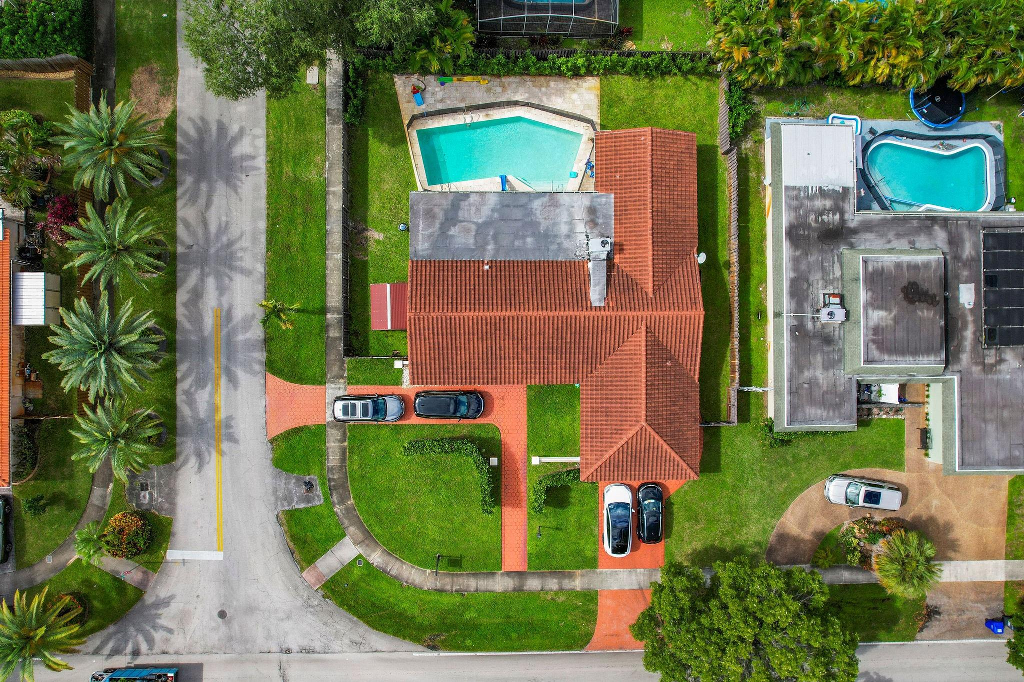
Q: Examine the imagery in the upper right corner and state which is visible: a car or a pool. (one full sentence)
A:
Visible in the upper right corner is a pool.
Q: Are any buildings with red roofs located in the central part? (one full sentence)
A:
Yes, a building with a red roof appears in the central part.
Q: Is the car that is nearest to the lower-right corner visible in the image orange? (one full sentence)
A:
No, the car that is nearest to the lower-right corner is actually white.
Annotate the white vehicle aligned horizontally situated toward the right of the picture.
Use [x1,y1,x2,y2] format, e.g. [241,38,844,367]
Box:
[827,475,907,514]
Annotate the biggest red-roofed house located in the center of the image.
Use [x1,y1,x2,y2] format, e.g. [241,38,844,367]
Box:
[404,125,706,482]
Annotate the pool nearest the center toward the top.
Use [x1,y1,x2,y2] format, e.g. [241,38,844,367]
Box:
[409,109,591,189]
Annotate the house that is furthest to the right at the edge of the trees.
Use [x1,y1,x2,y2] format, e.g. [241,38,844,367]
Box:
[768,121,1024,474]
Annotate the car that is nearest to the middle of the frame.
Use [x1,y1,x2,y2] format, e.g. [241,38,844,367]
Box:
[413,389,481,425]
